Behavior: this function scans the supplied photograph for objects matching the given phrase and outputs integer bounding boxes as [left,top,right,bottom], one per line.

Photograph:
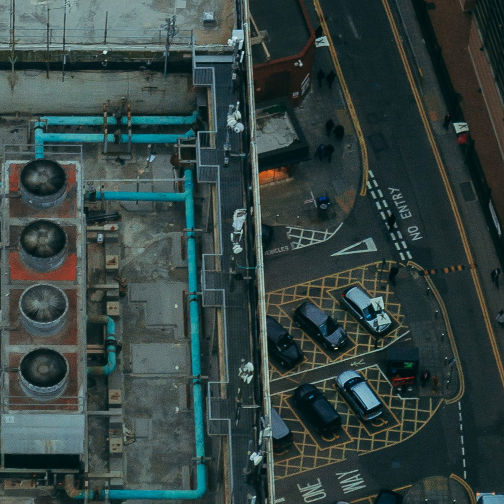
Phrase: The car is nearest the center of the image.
[262,219,286,249]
